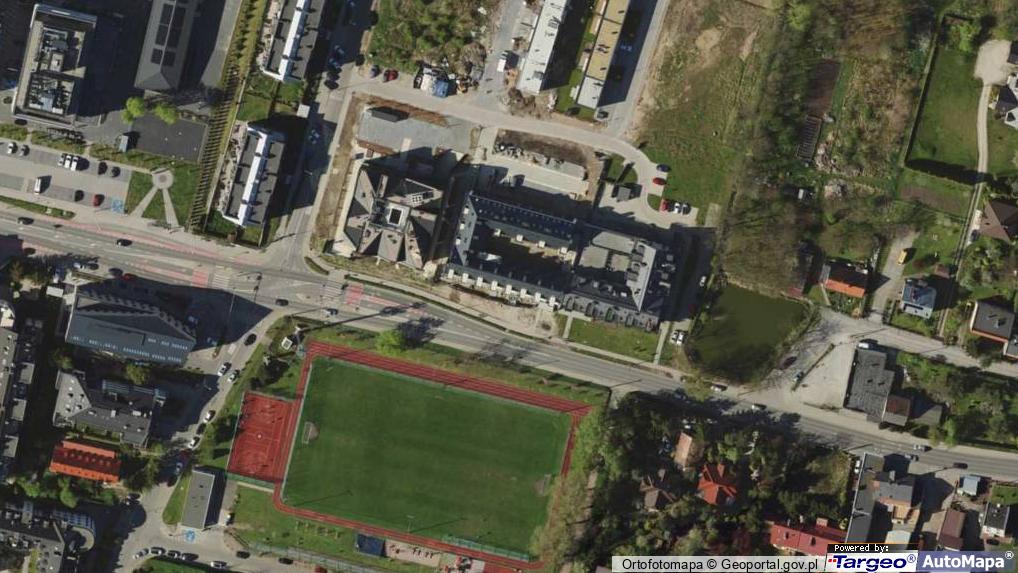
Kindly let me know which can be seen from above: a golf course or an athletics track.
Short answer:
athletics track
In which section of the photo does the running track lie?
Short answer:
bottom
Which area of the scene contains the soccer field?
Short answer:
bottom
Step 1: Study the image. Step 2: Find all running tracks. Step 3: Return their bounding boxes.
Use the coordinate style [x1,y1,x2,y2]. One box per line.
[273,342,594,570]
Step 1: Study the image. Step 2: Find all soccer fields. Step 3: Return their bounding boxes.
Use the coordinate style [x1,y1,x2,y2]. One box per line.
[281,357,571,561]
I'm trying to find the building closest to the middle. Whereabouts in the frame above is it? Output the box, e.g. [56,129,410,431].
[445,193,577,310]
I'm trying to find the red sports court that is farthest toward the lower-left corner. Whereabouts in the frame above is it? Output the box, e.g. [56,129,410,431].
[228,392,295,479]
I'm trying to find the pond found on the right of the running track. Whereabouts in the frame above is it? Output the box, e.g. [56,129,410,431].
[688,283,811,380]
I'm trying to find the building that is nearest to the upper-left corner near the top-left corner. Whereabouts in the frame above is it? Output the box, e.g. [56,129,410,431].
[12,4,101,130]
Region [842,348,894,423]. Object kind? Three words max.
building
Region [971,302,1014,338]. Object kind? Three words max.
house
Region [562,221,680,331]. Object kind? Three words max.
building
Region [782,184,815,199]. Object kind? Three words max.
shed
